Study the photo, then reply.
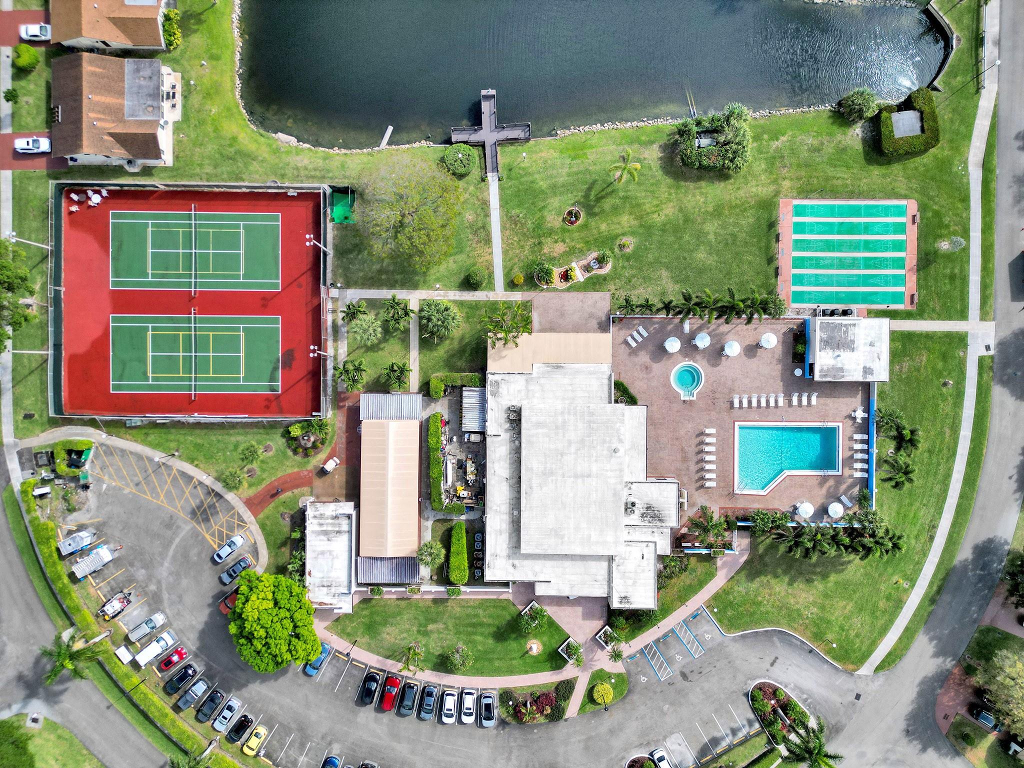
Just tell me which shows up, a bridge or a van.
van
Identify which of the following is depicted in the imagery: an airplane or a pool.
pool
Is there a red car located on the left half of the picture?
Yes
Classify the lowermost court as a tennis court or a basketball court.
tennis court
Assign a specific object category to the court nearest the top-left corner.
tennis court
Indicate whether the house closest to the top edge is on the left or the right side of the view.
left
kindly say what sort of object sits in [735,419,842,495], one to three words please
swimming pool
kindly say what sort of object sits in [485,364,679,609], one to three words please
building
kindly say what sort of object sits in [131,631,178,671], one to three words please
van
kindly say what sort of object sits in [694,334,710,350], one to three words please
umbrella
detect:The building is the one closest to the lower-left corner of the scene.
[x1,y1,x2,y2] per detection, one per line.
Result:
[305,499,358,612]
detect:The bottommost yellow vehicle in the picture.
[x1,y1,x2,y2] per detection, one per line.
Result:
[243,723,270,756]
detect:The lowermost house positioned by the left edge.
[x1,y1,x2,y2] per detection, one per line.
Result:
[51,53,167,162]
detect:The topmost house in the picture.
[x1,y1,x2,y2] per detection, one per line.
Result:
[54,0,170,52]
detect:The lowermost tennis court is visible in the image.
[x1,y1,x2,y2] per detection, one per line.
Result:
[109,308,280,399]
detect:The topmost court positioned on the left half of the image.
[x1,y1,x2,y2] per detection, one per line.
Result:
[109,203,280,297]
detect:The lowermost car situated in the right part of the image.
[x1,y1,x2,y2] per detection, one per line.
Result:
[651,745,676,768]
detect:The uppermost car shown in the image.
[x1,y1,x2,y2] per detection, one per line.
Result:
[21,24,54,42]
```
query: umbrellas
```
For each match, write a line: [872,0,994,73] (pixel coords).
[760,333,777,349]
[724,340,740,357]
[694,334,710,350]
[664,337,681,353]
[827,502,843,518]
[797,502,813,518]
